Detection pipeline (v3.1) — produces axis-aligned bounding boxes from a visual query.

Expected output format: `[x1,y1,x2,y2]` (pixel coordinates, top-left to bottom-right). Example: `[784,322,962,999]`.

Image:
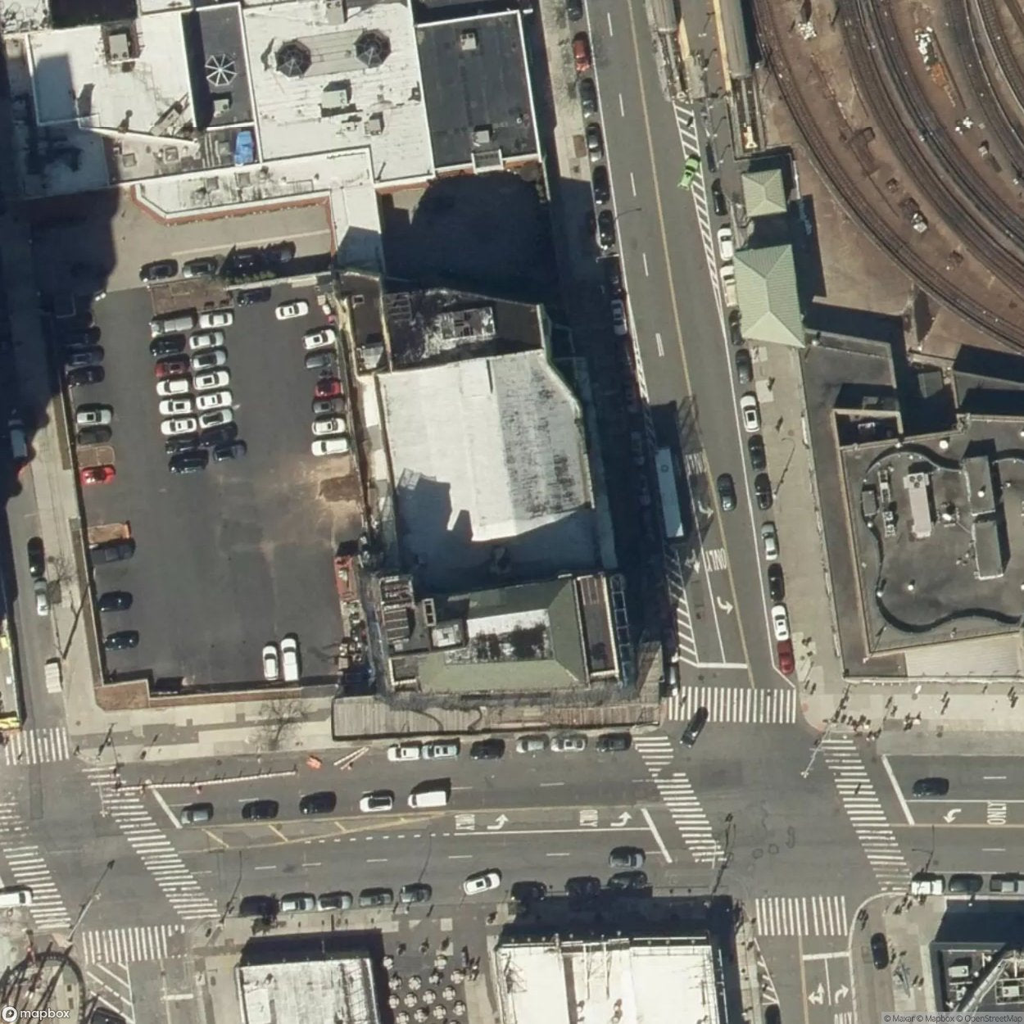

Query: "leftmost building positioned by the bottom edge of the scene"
[237,955,380,1024]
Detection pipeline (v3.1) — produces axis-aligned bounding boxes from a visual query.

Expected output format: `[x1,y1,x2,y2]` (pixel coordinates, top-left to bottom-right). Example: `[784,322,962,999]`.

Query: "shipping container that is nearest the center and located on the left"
[334,554,359,602]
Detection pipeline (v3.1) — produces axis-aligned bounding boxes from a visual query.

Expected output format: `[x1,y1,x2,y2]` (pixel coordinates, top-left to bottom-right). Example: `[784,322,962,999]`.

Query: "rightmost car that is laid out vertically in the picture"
[870,933,888,970]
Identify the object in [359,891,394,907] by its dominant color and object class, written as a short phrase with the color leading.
gray car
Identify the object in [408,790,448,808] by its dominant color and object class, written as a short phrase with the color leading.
white vehicle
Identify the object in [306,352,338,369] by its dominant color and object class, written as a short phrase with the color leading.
gray car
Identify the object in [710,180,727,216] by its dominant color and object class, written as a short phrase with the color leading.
black car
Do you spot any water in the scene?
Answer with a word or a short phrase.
No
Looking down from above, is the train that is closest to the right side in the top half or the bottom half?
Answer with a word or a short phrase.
top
